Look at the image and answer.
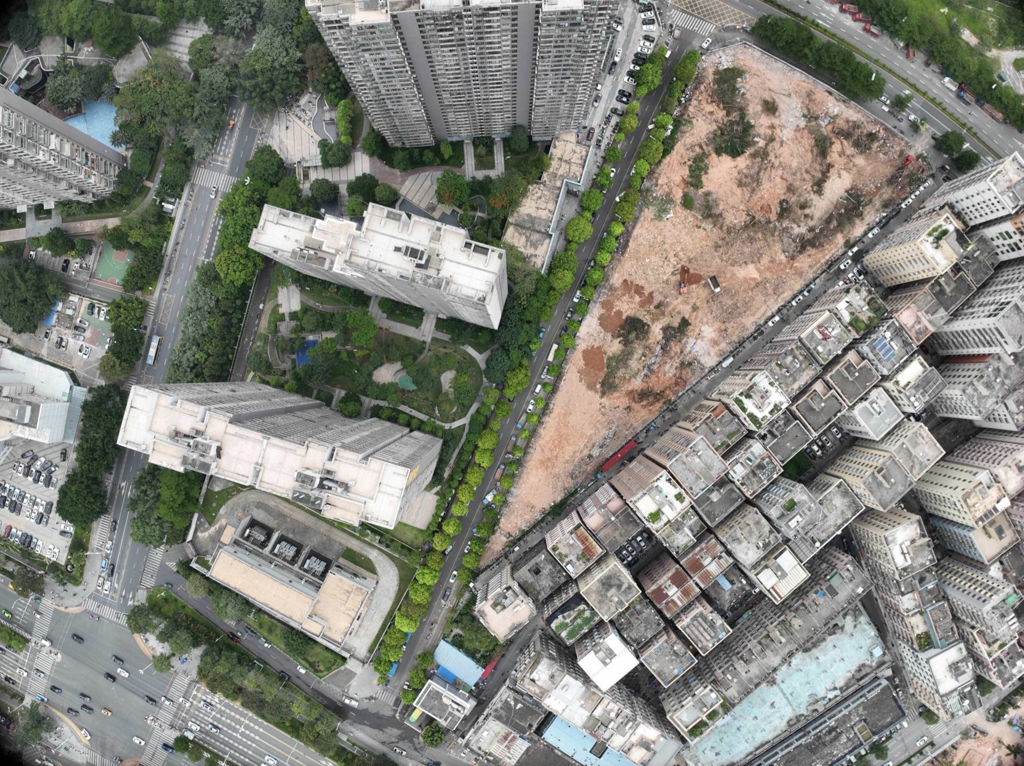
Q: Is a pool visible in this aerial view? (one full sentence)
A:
Yes, there's a pool down there.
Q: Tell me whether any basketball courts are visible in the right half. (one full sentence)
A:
No, looking in the right half, there is no basketball court.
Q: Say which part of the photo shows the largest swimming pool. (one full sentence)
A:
The largest swimming pool is located in the top left region of the scene.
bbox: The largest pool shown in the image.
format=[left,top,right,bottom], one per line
[70,100,125,150]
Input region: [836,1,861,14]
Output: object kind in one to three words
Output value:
vehicle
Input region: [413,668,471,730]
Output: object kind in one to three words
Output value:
house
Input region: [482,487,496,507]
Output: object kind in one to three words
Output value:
vehicle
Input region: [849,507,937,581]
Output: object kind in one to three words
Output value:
building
